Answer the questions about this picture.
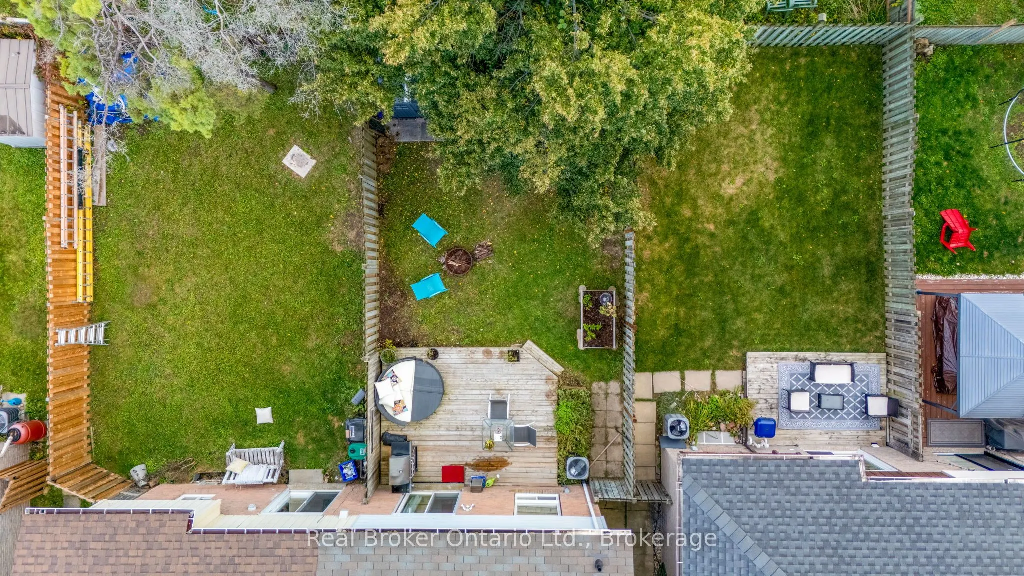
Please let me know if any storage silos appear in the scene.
No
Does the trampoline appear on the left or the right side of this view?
right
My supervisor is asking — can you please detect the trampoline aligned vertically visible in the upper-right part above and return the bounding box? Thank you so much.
[986,91,1024,184]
